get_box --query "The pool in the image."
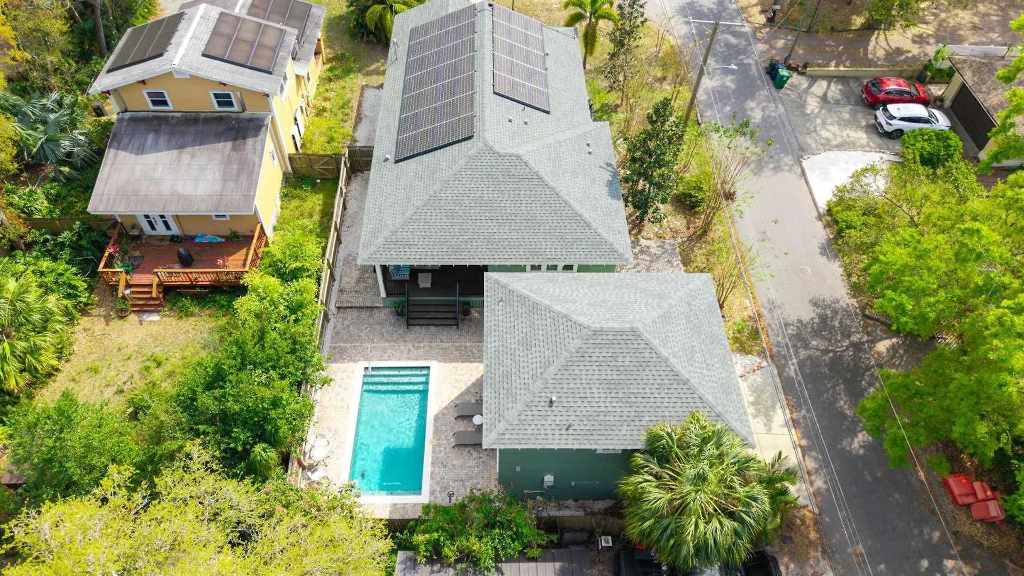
[337,361,437,502]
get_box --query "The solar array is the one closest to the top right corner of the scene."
[493,3,552,114]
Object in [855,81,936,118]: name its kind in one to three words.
car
